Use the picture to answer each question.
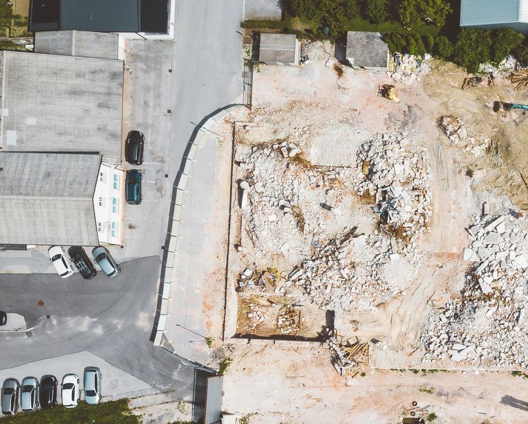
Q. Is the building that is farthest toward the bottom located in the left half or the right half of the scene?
left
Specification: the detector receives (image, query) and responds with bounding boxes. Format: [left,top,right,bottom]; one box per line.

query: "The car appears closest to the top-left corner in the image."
[124,130,145,165]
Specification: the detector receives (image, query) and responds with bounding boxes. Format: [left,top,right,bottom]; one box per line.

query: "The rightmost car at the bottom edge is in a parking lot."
[82,367,103,403]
